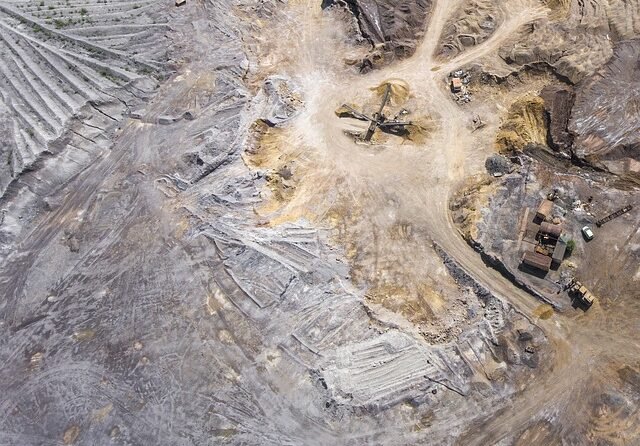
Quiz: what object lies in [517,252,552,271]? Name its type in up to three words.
shed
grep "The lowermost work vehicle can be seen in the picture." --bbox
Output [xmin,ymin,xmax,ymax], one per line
[569,279,599,306]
